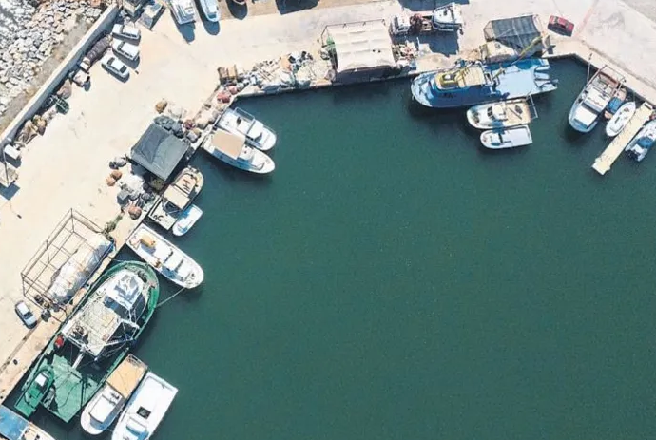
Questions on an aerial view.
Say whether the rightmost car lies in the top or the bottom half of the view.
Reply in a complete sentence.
You can find the rightmost car in the top half.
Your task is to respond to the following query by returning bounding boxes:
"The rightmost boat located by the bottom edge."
[117,373,178,440]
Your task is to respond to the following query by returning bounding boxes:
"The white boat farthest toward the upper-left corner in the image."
[169,0,197,25]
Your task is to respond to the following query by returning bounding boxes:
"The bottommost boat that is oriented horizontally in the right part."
[479,126,532,148]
